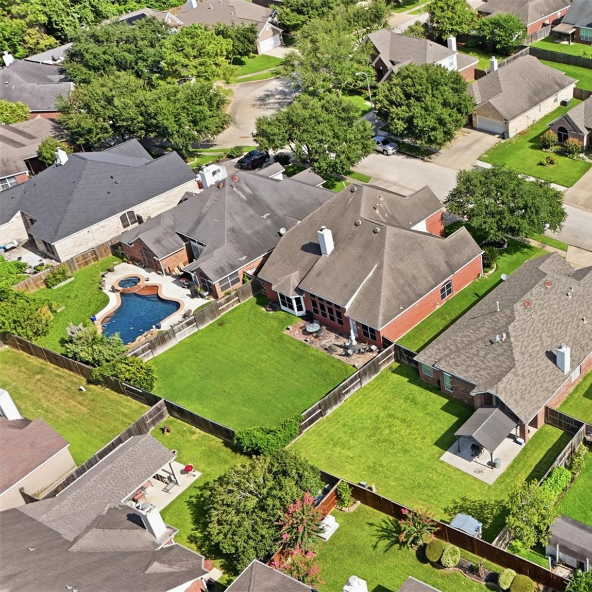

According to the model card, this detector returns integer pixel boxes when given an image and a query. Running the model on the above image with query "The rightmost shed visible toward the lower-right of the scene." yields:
[545,510,592,570]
